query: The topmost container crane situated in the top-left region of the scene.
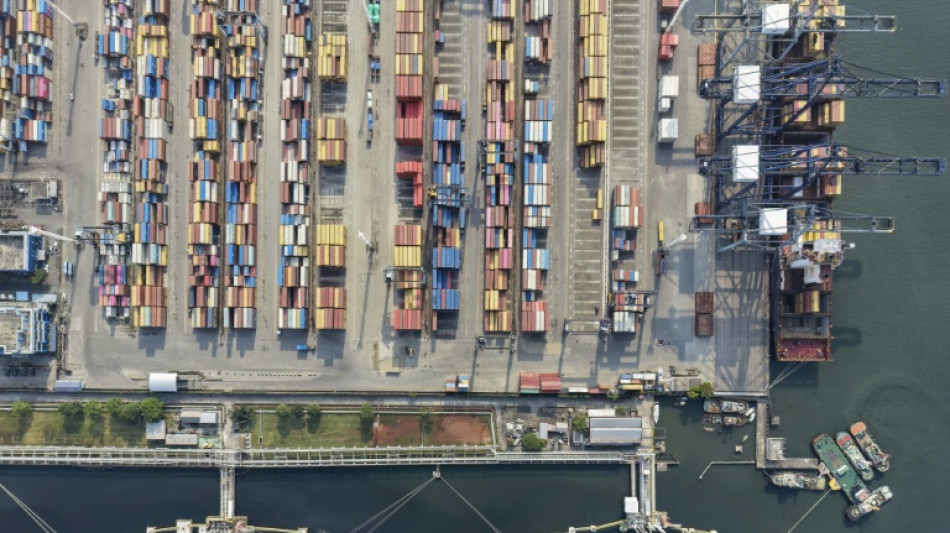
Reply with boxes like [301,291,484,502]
[217,10,273,47]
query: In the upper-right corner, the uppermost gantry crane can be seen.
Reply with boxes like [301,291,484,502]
[694,0,900,85]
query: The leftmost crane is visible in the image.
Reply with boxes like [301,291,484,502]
[78,225,143,250]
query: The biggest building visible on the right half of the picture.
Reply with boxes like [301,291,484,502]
[588,417,642,444]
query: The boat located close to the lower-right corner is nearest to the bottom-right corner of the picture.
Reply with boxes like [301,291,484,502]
[846,487,894,519]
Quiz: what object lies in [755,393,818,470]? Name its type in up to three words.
pier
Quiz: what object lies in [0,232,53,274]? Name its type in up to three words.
building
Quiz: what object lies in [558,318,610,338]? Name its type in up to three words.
container crane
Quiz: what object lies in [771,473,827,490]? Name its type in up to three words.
boat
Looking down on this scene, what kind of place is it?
port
